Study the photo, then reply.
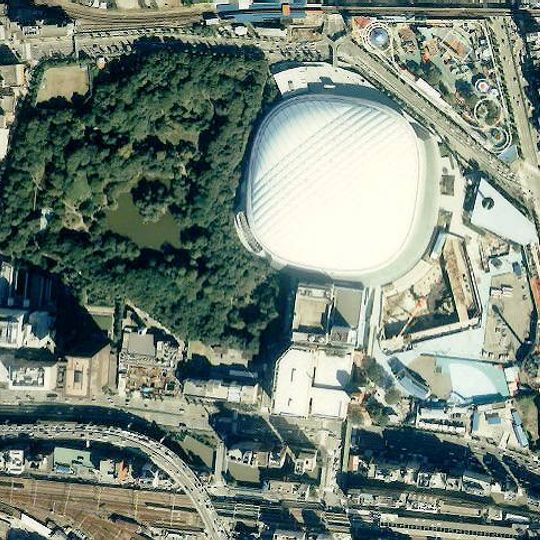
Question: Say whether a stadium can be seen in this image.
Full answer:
Yes, there is a stadium in the image.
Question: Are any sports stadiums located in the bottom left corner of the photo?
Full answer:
No, I see no sports stadium in the bottom left corner of the photo.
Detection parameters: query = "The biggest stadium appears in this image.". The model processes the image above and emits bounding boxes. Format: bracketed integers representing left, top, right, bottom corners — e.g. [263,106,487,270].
[246,90,441,286]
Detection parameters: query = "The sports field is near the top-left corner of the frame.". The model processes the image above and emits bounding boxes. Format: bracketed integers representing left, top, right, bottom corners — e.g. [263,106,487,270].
[35,65,92,107]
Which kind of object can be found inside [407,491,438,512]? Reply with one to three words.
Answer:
building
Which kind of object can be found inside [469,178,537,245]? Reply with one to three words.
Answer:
building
